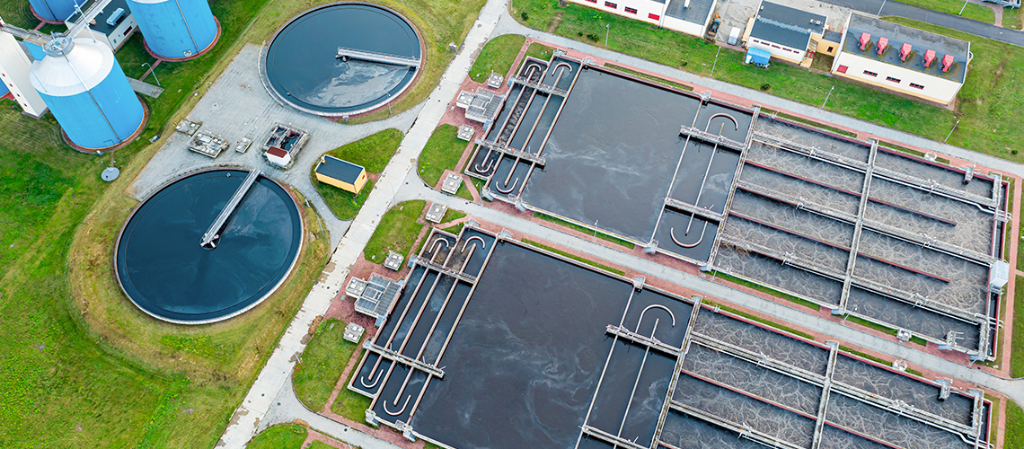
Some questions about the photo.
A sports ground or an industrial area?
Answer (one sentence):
This image shows an industrial area.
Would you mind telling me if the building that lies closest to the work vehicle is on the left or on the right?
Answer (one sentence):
It is on the right.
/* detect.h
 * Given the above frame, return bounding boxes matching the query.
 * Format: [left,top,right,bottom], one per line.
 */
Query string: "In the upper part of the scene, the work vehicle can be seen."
[705,8,724,39]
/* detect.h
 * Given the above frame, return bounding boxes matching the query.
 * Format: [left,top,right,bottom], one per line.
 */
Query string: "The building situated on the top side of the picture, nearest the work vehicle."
[662,0,715,37]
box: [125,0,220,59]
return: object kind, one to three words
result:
storage tank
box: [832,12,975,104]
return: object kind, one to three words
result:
building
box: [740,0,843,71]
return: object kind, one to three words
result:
building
